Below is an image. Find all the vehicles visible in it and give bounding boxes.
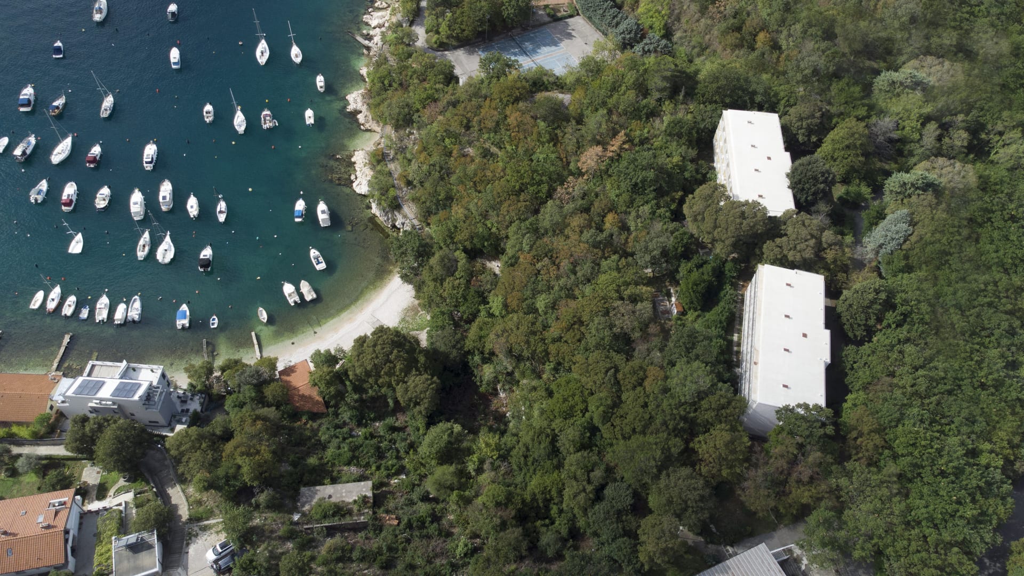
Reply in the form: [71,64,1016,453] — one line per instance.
[206,535,239,558]
[211,546,239,571]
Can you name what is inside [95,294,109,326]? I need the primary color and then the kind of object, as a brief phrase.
white boat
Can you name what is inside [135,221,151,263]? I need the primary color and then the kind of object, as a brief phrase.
white boat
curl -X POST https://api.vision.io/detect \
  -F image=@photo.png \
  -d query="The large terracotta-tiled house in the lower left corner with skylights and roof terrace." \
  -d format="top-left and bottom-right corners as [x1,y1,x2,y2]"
[0,489,91,576]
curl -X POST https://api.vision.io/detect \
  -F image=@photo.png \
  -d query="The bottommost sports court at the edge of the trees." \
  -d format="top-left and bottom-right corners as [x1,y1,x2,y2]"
[446,17,603,85]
